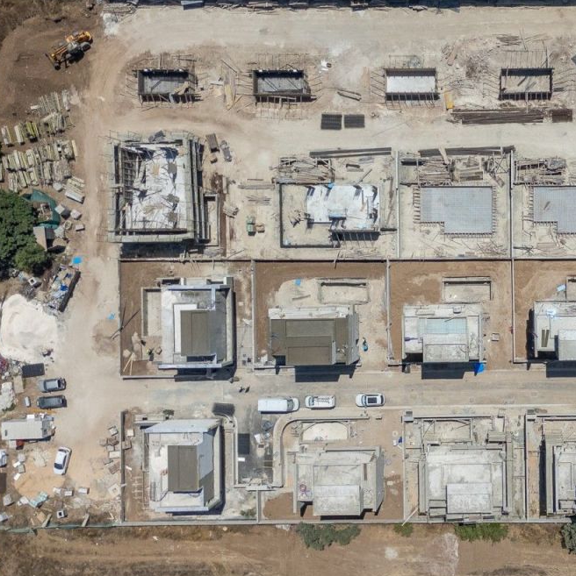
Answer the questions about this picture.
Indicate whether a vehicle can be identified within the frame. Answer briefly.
Yes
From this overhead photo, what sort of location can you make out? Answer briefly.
residential area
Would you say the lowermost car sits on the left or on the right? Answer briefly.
left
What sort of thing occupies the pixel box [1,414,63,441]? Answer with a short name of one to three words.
building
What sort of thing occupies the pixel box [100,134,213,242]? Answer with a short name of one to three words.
building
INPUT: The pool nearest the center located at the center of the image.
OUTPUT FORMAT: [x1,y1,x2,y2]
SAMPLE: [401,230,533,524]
[319,276,370,303]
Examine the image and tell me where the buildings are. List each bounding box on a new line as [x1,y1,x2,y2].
[144,422,222,511]
[35,226,61,250]
[532,300,576,360]
[552,438,576,511]
[425,438,506,513]
[159,276,246,368]
[100,134,213,242]
[293,442,384,516]
[268,306,360,364]
[403,303,484,362]
[1,414,63,441]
